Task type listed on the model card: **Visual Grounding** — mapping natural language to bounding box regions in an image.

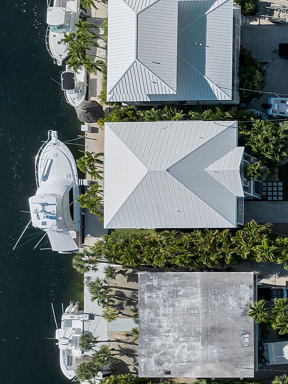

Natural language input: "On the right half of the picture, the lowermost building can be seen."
[138,272,265,378]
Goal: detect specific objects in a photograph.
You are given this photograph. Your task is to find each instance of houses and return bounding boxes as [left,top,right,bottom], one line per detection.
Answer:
[107,0,249,109]
[138,272,265,378]
[104,120,271,228]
